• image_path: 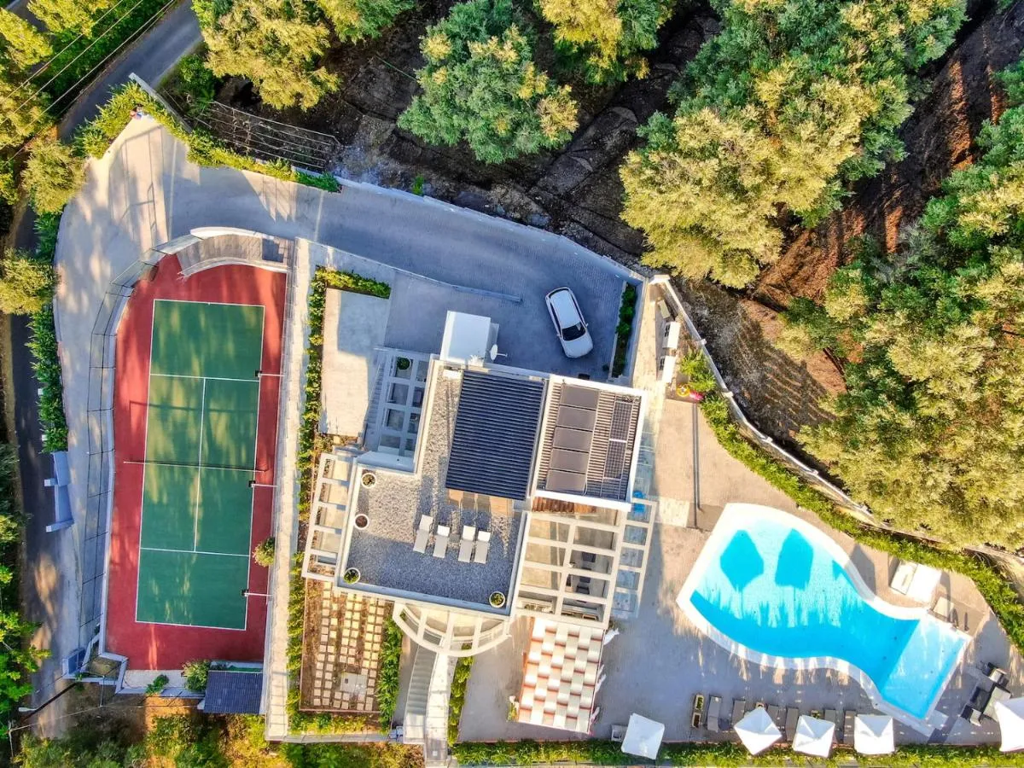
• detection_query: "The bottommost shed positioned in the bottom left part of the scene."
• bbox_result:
[203,657,270,715]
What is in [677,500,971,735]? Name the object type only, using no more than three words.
swimming pool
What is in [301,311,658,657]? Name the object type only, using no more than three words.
house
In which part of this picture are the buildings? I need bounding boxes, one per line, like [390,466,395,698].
[203,657,270,715]
[301,311,658,657]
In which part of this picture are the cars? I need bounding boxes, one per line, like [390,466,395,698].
[548,286,591,358]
